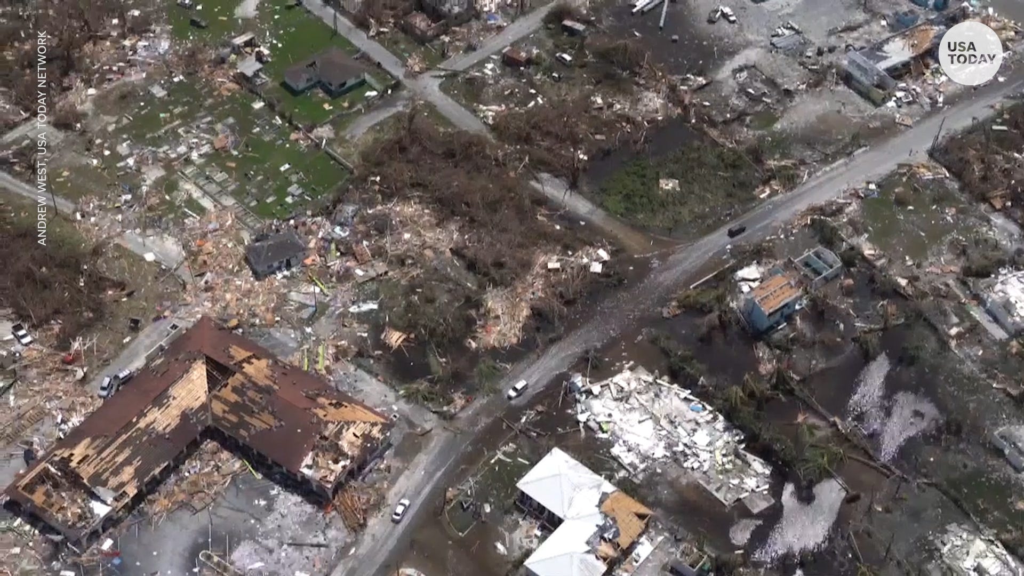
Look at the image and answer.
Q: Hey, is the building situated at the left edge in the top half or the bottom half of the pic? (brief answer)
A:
bottom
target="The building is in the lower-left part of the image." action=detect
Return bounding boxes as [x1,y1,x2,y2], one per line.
[4,316,395,554]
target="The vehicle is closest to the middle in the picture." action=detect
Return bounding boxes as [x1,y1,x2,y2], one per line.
[505,377,531,401]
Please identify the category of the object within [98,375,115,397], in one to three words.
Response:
car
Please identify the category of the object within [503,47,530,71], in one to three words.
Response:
shed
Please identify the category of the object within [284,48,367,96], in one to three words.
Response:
house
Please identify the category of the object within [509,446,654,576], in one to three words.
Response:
building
